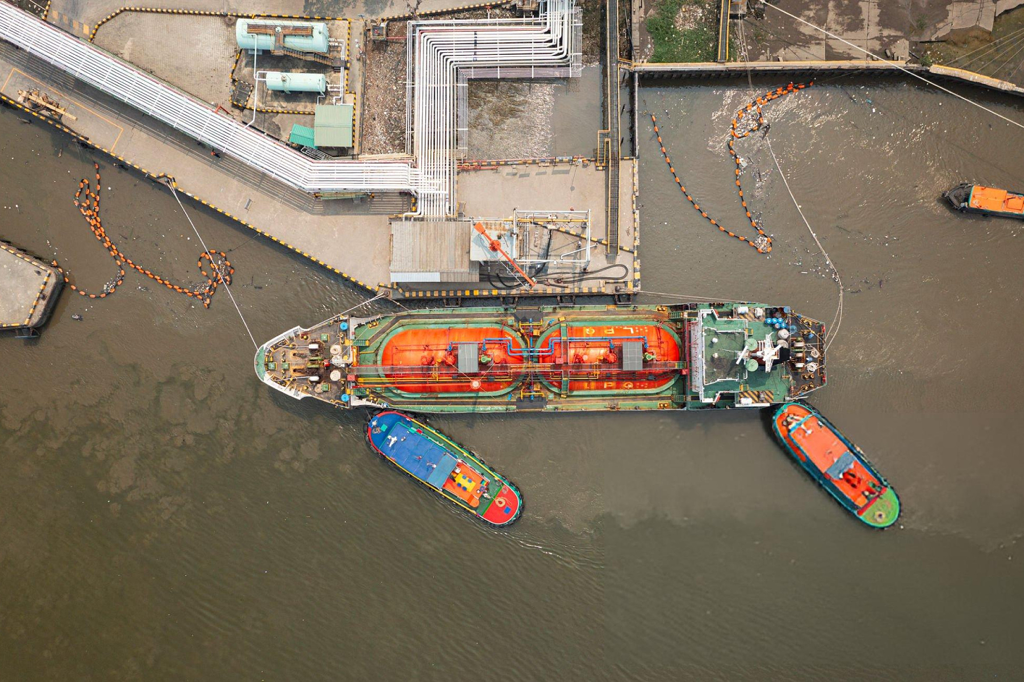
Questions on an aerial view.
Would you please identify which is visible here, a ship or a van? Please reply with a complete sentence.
The image shows a ship.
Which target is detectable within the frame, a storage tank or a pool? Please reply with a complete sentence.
The image shows a storage tank.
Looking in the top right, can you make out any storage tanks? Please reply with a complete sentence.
No, no storage tank can be made out in the top right.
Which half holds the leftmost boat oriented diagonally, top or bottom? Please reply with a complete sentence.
The bottom half of the photo is where the leftmost boat oriented diagonally is.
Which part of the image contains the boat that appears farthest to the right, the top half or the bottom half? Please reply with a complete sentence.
The boat that appears farthest to the right sits in the top half of the picture.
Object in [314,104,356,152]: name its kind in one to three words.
shed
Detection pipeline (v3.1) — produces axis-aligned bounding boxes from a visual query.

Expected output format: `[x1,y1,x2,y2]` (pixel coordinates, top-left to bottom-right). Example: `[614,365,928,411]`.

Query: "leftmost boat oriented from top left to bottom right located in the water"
[364,409,521,530]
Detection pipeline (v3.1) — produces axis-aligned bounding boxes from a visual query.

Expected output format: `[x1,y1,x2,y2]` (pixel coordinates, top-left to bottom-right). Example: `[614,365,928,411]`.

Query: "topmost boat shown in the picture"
[938,179,1024,222]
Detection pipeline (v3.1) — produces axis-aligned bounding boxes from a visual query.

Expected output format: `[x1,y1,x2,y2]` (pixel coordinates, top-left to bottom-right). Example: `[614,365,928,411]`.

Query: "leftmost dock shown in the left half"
[0,236,69,333]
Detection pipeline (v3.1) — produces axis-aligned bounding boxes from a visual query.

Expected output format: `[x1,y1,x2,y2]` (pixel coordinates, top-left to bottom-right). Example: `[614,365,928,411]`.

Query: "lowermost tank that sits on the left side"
[258,69,328,104]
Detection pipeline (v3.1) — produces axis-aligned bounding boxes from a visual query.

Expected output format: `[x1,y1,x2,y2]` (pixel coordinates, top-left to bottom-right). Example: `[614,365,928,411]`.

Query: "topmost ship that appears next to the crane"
[254,303,831,414]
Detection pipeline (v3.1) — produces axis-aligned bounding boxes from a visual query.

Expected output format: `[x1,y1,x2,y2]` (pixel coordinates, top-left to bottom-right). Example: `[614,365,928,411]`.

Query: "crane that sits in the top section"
[471,218,538,293]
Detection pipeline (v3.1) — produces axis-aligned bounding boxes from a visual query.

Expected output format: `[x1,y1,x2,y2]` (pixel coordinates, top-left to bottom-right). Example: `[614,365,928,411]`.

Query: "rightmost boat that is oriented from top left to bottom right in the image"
[772,396,904,532]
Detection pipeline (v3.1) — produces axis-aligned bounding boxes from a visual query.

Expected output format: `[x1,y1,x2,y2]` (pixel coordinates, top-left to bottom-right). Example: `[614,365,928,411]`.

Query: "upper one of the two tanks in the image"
[236,19,348,72]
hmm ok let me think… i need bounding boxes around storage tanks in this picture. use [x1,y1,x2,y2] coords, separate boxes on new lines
[258,69,328,104]
[236,19,348,72]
